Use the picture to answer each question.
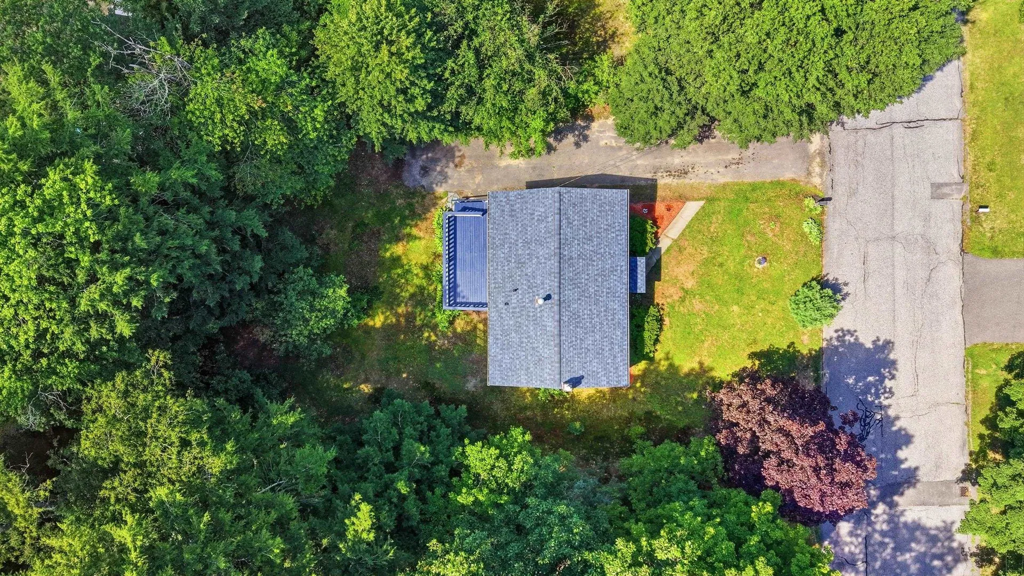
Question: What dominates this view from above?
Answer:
trees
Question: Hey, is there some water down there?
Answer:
No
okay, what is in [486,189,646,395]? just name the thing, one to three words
house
